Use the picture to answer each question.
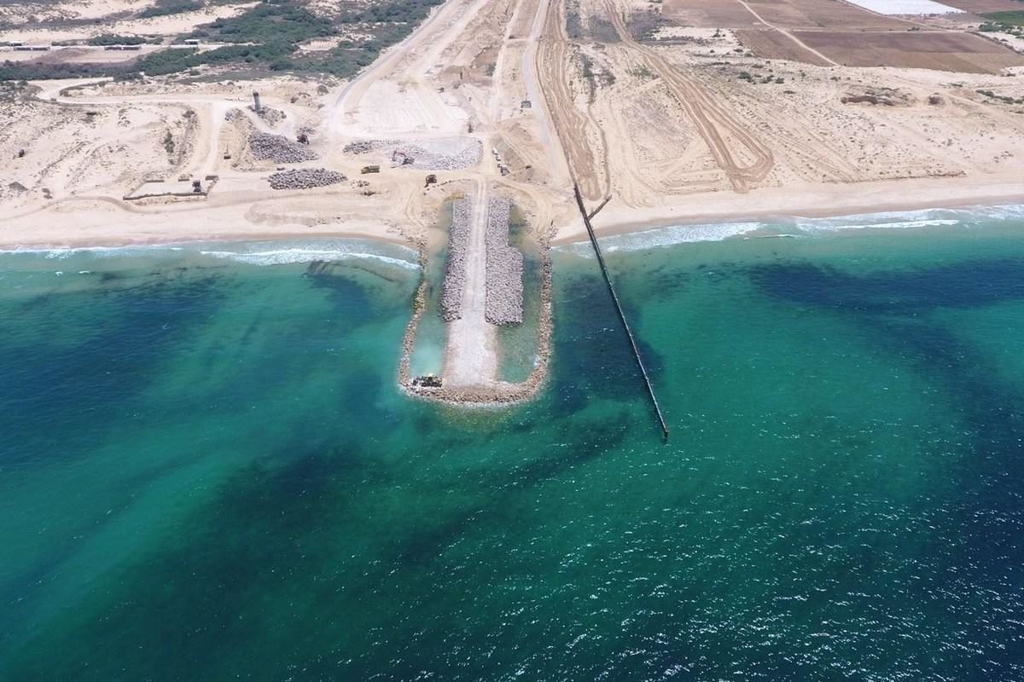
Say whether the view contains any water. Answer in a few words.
Yes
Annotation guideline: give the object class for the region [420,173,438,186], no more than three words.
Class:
vehicle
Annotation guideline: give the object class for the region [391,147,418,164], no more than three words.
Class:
work vehicle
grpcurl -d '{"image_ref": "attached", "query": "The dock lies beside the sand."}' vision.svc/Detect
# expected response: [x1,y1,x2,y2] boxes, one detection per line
[573,183,670,438]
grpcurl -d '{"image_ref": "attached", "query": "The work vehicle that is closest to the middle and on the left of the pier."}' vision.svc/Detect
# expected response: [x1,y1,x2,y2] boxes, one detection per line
[414,375,442,388]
